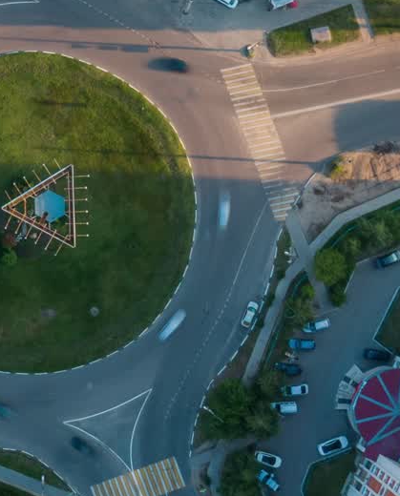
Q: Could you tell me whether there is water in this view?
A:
No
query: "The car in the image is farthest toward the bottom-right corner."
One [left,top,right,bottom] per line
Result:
[319,436,347,454]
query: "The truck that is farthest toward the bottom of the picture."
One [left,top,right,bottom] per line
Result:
[253,469,281,492]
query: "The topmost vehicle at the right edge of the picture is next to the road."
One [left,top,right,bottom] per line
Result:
[376,250,400,268]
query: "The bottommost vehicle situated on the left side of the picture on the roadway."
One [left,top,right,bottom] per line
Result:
[69,434,94,455]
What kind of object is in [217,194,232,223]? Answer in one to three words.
vehicle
